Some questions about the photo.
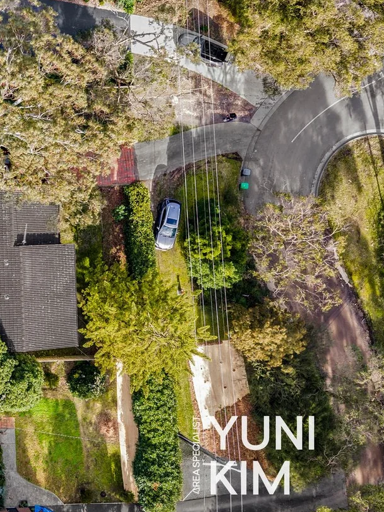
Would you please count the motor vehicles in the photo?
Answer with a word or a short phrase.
two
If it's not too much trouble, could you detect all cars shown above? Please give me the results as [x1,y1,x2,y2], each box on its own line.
[173,32,228,71]
[151,198,180,250]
